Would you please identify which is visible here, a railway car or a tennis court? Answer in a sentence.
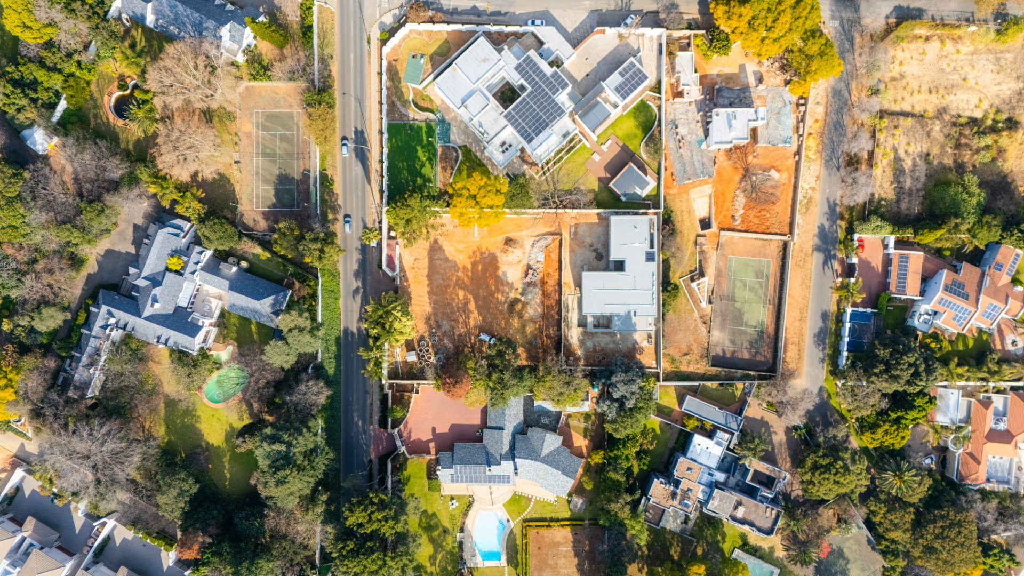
Visible in the photo is a tennis court.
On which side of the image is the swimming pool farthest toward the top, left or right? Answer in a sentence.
You can find the swimming pool farthest toward the top on the left side of the picture.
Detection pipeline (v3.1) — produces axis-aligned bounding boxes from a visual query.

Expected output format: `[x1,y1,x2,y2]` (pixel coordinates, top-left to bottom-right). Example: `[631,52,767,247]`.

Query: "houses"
[434,27,582,171]
[579,215,657,332]
[935,390,1024,488]
[877,236,1024,333]
[0,509,83,576]
[705,107,766,152]
[58,215,293,402]
[642,426,789,538]
[108,0,271,68]
[437,393,589,499]
[19,124,63,157]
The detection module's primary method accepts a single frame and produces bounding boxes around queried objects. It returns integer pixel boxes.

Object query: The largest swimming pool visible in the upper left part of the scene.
[108,79,144,123]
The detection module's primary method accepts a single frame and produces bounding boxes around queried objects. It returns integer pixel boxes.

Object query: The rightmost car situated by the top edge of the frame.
[622,13,638,26]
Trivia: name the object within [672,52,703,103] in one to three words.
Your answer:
shed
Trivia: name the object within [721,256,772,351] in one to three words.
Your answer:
tennis court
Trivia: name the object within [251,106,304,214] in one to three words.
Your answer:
tennis court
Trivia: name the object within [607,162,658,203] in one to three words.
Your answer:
building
